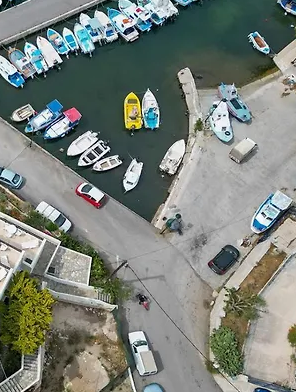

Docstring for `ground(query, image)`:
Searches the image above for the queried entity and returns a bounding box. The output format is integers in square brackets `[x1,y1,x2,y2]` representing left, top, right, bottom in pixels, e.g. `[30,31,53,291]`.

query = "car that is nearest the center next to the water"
[72,182,108,209]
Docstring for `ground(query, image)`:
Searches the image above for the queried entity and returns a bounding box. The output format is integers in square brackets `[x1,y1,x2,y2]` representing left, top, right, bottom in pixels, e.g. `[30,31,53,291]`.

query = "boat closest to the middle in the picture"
[123,157,147,196]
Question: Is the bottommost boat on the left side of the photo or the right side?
right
